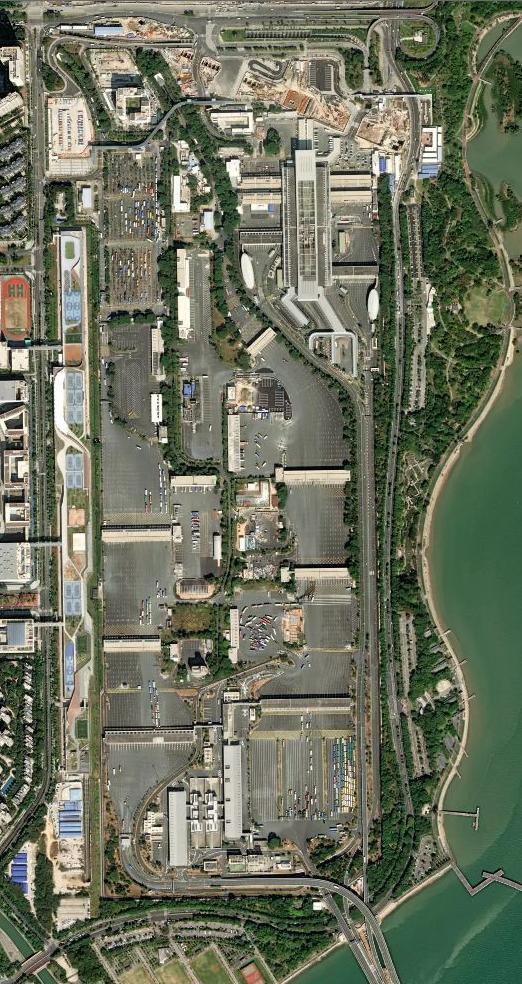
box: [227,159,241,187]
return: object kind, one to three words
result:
building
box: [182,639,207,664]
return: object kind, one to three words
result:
building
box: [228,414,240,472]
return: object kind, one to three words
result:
shed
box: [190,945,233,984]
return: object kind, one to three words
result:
sports field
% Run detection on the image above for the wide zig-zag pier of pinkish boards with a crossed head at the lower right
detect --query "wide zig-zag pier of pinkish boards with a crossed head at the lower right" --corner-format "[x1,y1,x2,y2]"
[451,861,522,895]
